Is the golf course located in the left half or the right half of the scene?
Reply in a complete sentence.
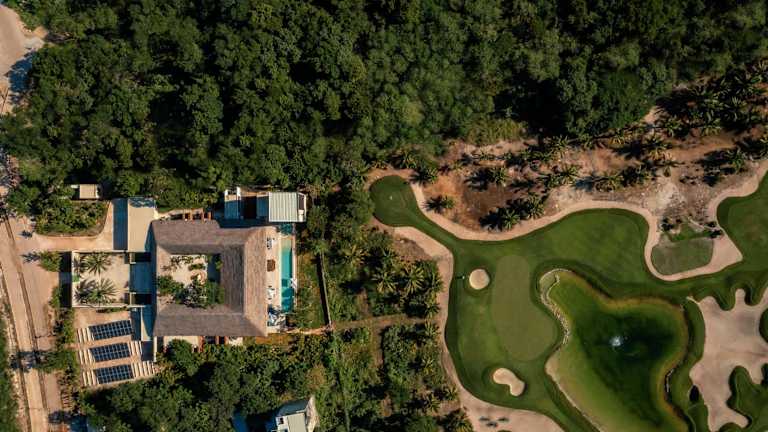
The golf course appears in the right half of the scene.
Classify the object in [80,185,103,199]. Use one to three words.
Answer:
shed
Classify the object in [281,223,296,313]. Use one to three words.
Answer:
swimming pool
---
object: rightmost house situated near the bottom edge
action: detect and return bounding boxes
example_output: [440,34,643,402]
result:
[276,401,314,432]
